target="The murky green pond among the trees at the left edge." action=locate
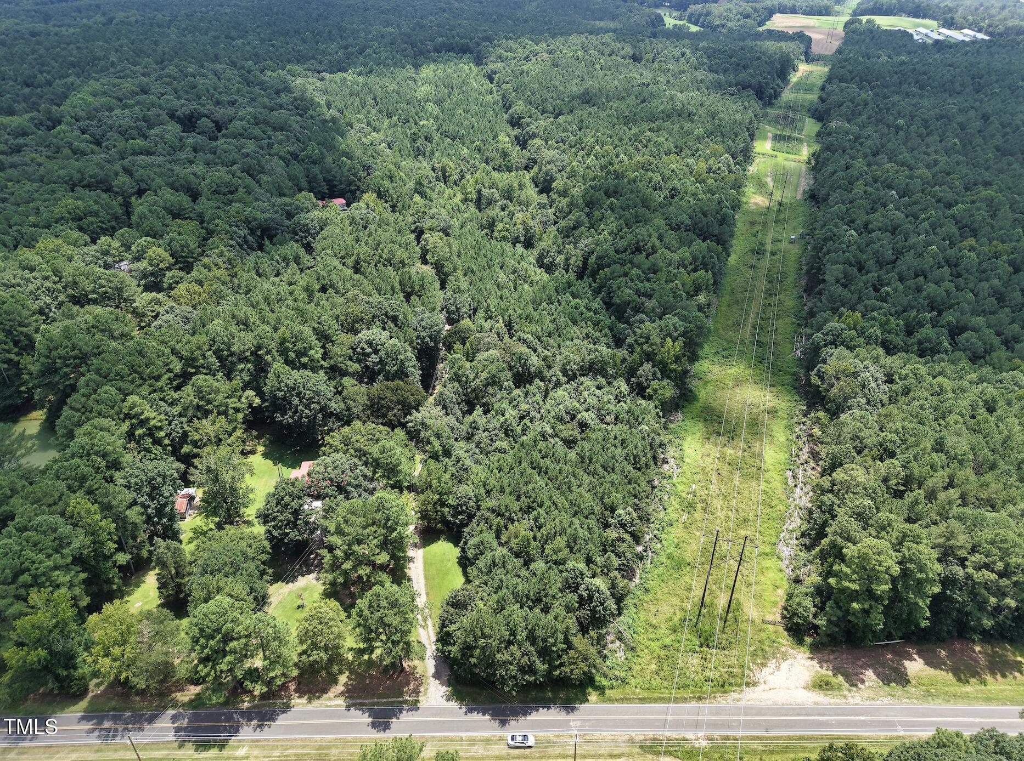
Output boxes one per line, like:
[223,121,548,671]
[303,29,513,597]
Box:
[0,425,62,480]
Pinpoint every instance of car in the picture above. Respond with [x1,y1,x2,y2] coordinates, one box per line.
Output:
[508,735,534,749]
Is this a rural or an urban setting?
rural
